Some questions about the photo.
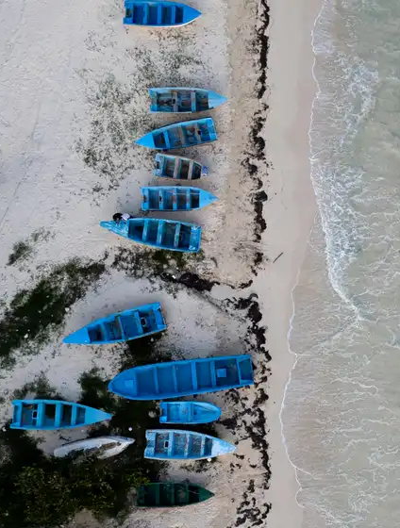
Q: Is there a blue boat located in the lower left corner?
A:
Yes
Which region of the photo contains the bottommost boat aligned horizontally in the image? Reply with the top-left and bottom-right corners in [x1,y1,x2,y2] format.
[137,482,215,508]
